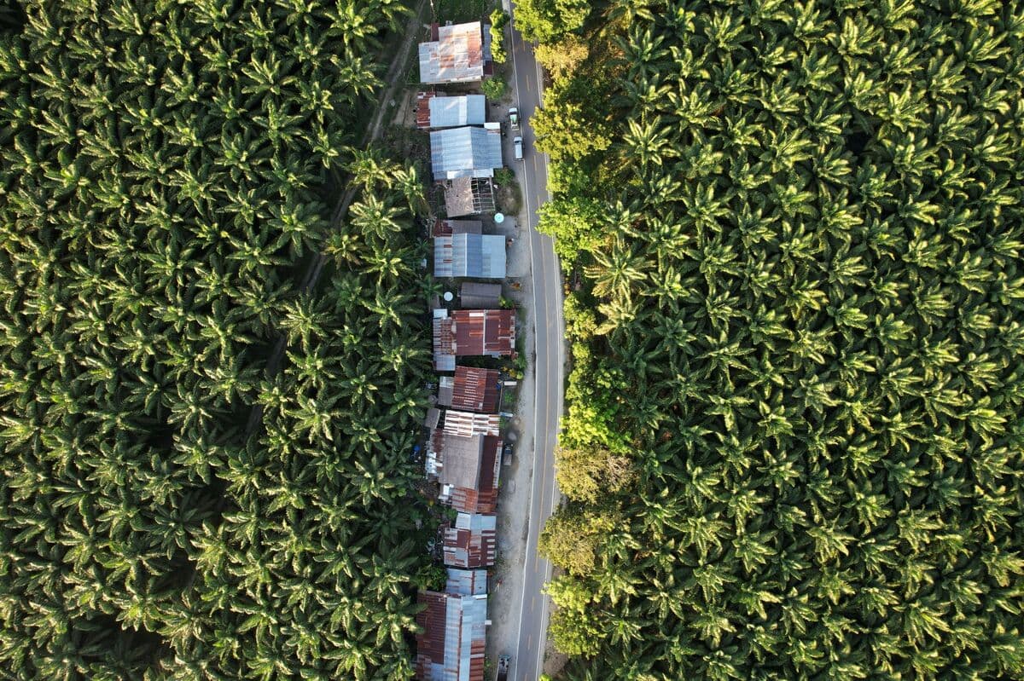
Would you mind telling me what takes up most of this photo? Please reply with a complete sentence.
Most of the picture is covered by trees.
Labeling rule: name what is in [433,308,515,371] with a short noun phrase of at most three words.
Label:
house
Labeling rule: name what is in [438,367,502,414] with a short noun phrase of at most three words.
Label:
house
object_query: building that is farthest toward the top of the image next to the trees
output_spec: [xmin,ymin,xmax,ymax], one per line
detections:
[419,21,494,86]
